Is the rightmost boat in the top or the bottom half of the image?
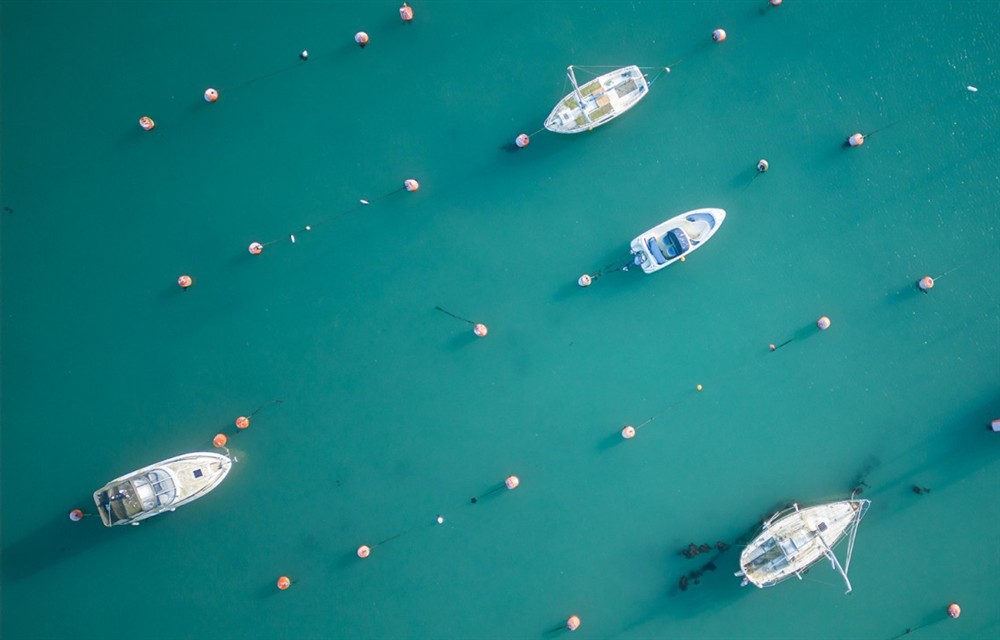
bottom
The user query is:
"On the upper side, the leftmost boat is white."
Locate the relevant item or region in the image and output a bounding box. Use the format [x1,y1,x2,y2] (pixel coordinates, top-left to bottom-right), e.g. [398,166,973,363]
[544,63,649,132]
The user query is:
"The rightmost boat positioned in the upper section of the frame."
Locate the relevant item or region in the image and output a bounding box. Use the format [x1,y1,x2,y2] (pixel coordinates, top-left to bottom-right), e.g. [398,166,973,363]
[619,206,727,275]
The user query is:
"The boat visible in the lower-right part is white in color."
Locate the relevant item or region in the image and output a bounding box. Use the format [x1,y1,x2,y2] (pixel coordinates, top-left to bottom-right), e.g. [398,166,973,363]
[732,498,871,593]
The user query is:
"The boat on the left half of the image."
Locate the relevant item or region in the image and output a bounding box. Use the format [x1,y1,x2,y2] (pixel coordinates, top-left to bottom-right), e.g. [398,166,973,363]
[95,451,239,527]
